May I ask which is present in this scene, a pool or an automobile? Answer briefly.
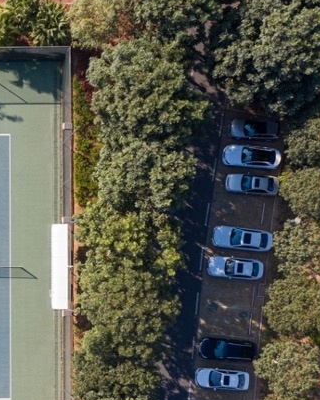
automobile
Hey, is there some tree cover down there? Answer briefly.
Yes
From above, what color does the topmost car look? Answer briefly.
black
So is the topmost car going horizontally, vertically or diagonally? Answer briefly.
horizontally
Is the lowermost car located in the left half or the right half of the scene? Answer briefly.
right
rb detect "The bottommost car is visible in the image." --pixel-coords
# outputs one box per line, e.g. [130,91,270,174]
[192,367,250,391]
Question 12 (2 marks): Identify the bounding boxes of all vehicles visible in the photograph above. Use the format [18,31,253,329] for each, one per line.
[196,336,258,361]
[192,367,250,391]
[220,143,282,169]
[225,115,281,142]
[204,255,264,279]
[210,226,272,251]
[222,171,280,197]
